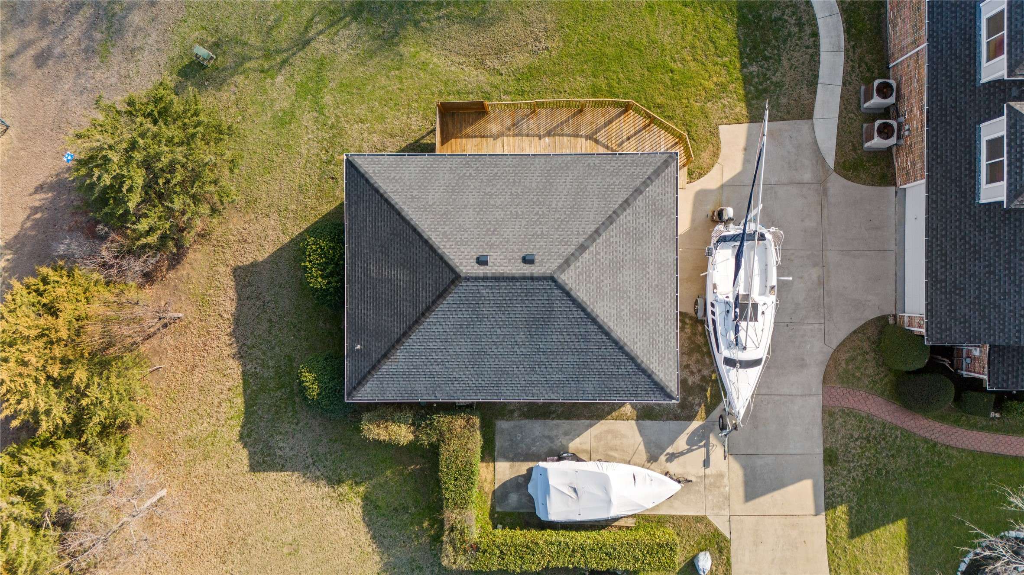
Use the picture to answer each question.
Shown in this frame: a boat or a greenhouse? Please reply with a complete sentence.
The image shows a boat.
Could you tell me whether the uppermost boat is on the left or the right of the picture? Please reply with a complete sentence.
The uppermost boat sits on the right side.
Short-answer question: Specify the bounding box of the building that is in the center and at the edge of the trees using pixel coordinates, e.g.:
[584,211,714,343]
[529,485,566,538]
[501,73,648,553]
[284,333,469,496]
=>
[343,152,681,408]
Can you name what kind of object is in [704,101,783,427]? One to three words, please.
boat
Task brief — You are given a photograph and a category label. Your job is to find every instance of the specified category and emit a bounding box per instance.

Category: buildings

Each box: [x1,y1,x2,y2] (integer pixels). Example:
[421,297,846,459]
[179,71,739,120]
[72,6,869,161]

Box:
[886,0,1024,393]
[343,152,681,408]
